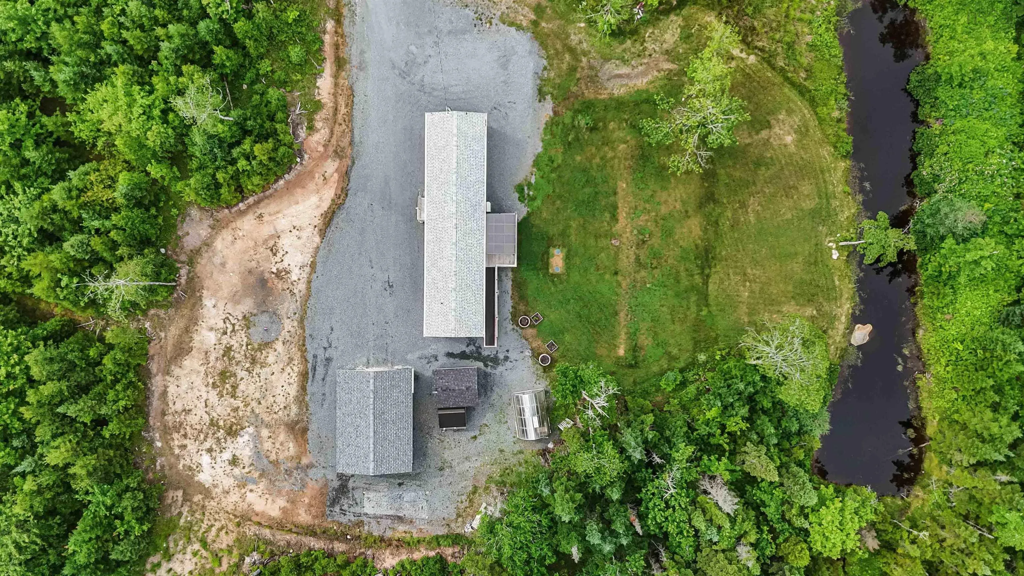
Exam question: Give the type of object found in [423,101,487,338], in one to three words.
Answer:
house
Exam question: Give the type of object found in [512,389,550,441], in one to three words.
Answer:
greenhouse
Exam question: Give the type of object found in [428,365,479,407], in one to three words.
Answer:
shed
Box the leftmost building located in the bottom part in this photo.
[337,367,416,478]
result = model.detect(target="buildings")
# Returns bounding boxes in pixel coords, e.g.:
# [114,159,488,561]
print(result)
[512,389,550,441]
[337,367,416,478]
[423,101,487,338]
[428,365,479,407]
